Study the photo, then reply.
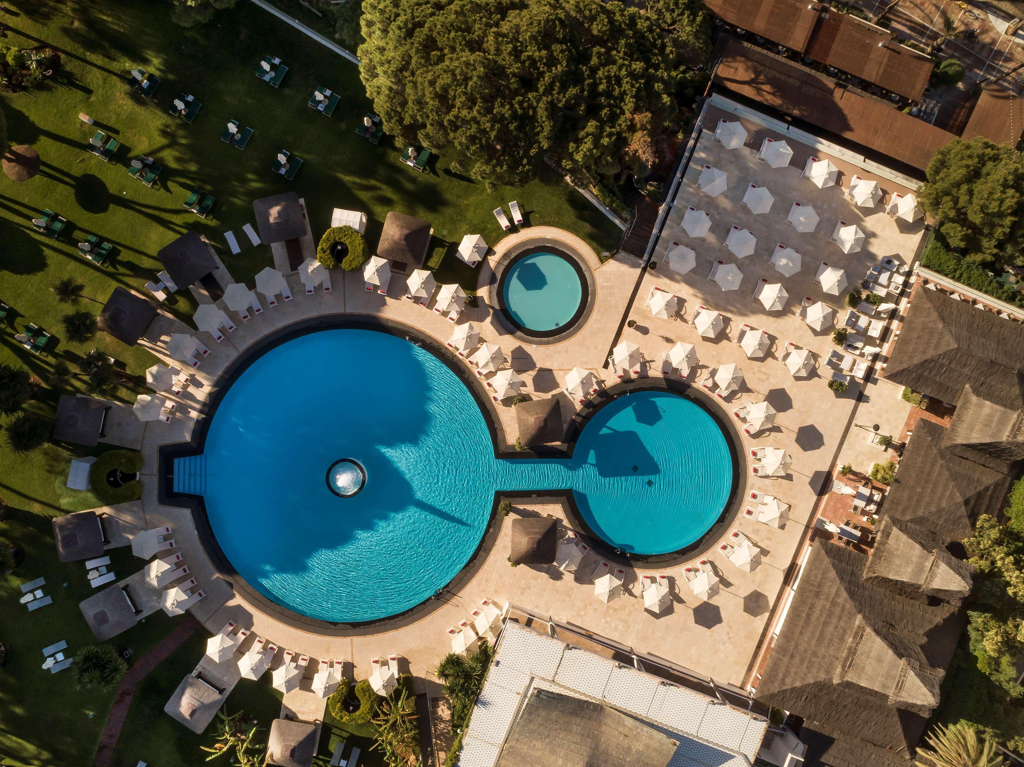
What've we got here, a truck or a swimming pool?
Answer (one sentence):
Looking from above, you can make out a swimming pool.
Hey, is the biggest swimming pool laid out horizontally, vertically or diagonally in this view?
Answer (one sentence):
The biggest swimming pool is oriented horizontally.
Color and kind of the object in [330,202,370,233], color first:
white tent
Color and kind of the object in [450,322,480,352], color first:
white umbrella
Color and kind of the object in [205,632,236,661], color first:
white umbrella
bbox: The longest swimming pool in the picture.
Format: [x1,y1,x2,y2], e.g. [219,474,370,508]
[173,329,734,623]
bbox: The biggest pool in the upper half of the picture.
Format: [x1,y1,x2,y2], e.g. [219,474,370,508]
[503,252,582,331]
